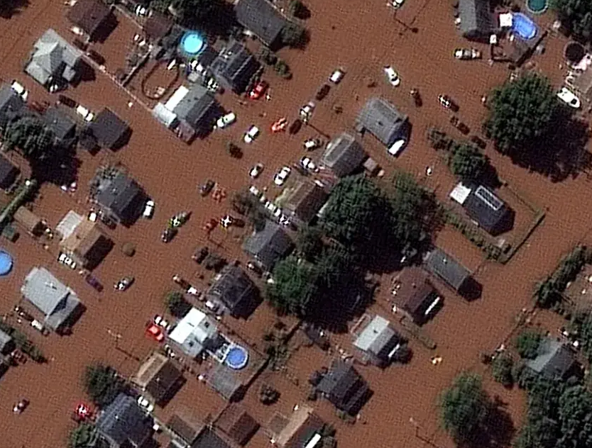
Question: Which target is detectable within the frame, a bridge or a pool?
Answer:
pool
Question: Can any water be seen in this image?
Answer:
Yes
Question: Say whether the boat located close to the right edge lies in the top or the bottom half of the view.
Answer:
top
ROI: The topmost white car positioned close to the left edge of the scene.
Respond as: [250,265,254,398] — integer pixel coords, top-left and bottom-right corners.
[9,80,30,98]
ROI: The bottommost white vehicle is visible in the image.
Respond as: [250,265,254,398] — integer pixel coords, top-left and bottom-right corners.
[303,431,324,448]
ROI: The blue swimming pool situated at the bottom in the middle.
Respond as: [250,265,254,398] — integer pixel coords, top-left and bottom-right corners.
[225,345,247,368]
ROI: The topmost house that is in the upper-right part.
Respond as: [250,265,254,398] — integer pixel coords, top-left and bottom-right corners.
[459,0,489,35]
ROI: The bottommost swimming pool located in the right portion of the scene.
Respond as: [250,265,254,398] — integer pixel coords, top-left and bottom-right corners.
[511,14,538,38]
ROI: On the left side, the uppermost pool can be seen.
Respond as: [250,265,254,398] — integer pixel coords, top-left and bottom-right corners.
[180,31,205,54]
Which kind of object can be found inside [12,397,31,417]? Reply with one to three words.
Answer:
car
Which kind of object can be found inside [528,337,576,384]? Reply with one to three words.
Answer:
house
